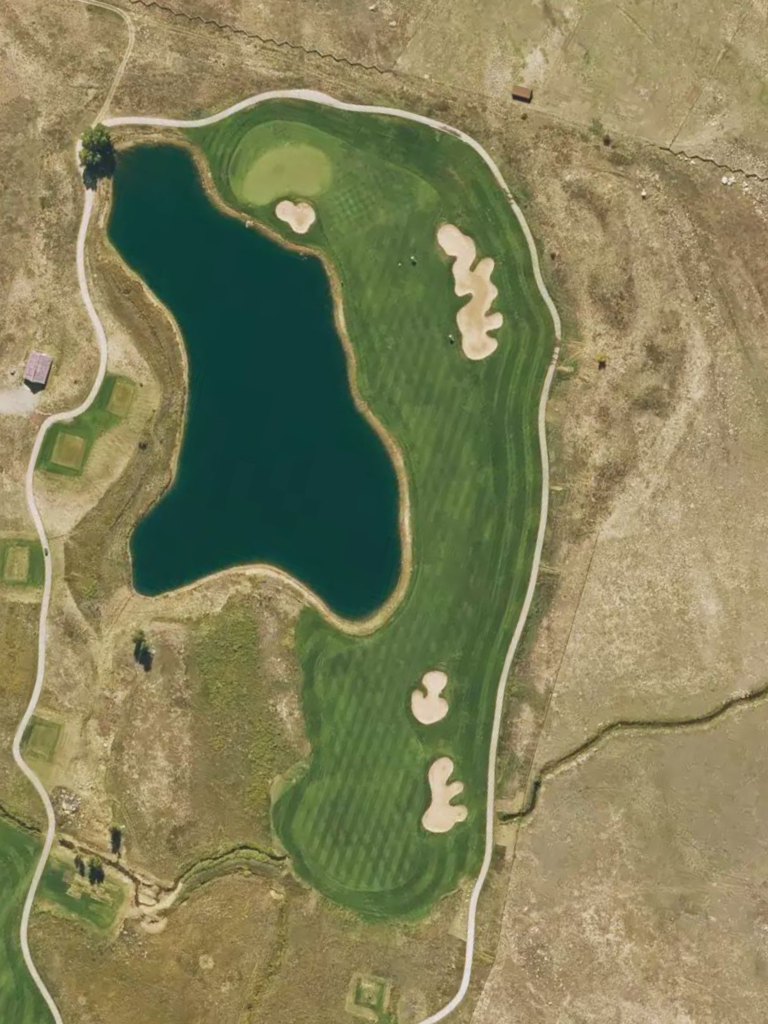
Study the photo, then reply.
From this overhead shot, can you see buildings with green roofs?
No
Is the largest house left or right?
left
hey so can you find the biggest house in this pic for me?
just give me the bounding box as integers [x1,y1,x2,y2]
[22,350,52,385]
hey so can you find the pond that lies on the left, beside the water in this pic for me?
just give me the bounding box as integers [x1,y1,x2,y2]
[107,143,401,620]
